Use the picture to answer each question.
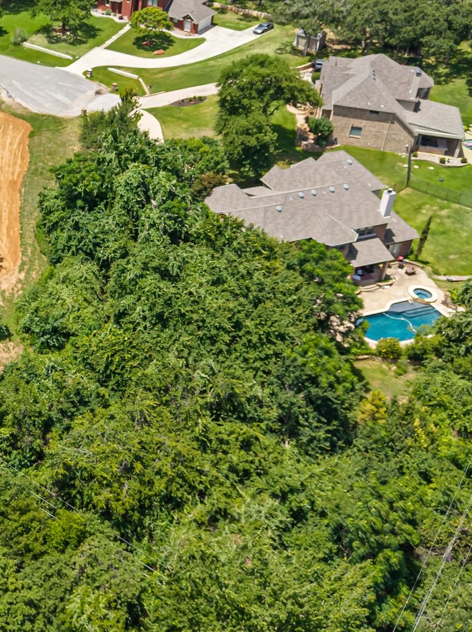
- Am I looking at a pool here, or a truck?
pool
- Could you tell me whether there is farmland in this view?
No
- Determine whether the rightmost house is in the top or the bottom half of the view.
top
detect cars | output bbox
[251,24,276,35]
[311,58,324,73]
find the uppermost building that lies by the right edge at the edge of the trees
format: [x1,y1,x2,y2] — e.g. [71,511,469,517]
[314,53,466,158]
